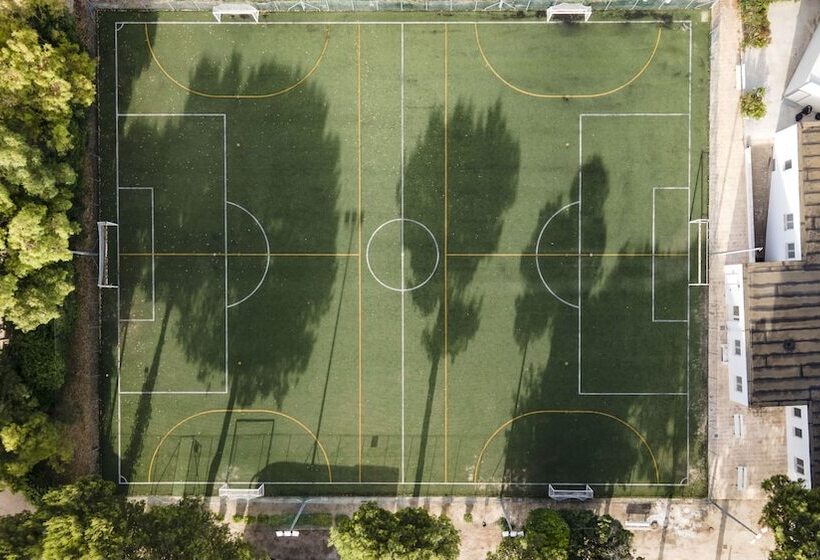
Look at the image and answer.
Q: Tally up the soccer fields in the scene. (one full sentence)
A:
In total, there are 3 soccer fields in the scene.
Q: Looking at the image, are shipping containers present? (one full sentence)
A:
No, the frame has no shipping container in it.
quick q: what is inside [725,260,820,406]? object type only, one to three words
building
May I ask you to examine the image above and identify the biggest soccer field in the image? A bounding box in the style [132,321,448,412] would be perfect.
[98,10,709,498]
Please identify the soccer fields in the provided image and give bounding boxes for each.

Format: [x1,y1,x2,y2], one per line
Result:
[98,10,709,498]
[119,22,360,484]
[445,22,689,484]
